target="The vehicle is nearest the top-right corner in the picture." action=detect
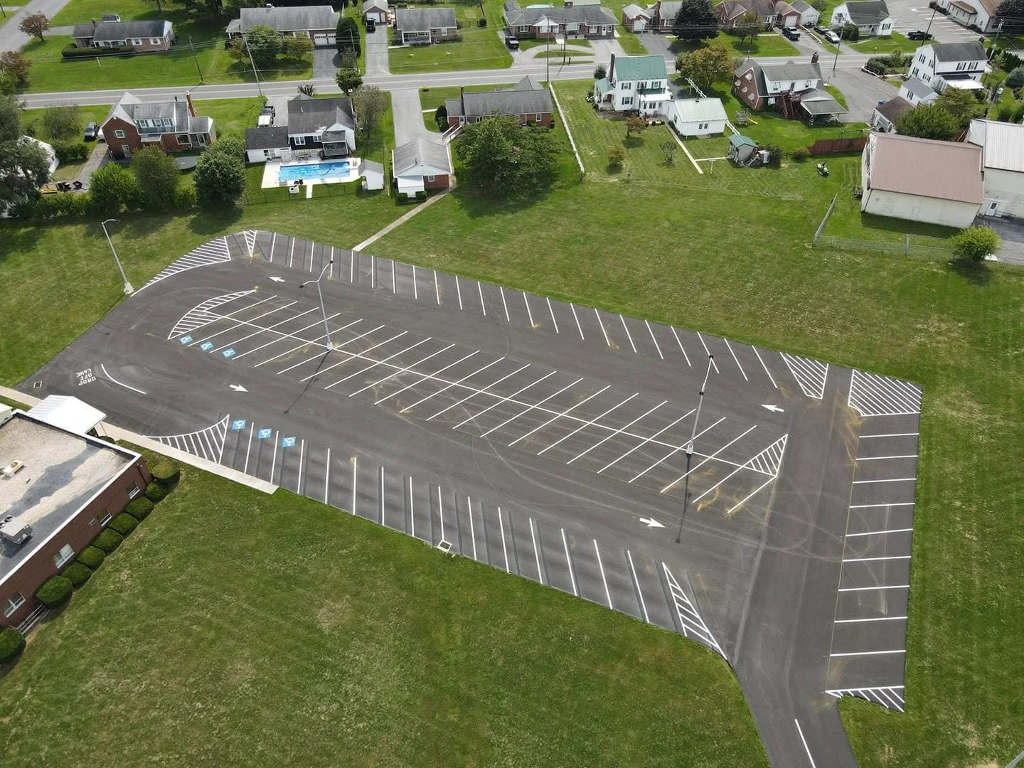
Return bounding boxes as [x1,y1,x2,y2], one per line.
[906,27,936,39]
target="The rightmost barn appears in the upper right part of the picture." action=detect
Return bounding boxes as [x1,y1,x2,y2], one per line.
[968,127,1024,225]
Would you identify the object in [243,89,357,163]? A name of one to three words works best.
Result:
house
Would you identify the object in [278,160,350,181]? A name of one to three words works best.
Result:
swimming pool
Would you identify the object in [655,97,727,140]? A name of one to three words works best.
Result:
building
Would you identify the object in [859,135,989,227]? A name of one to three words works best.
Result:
barn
